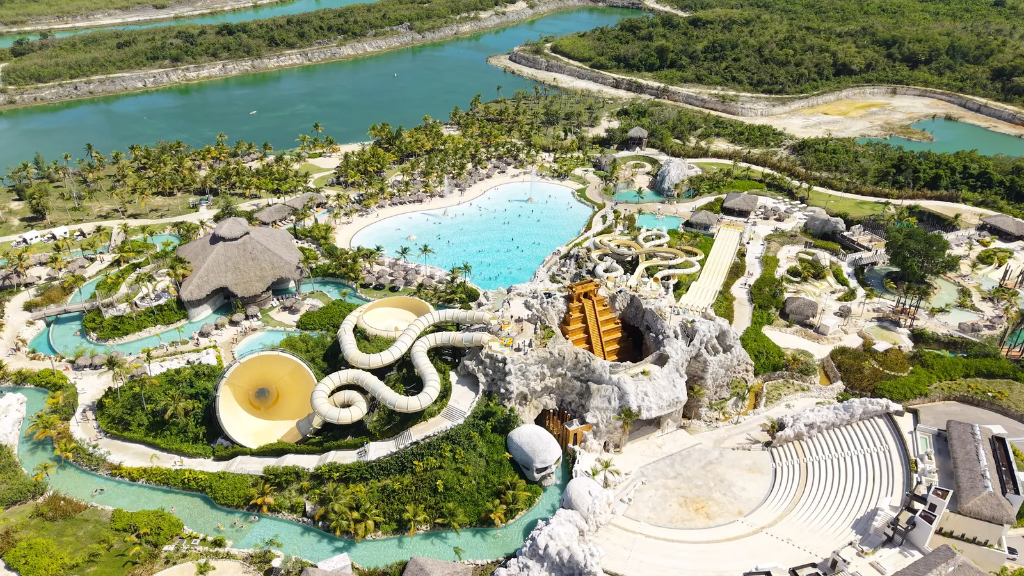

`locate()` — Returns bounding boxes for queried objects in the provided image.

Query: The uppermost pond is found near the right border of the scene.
[856,120,1024,169]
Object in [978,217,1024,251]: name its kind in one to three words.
building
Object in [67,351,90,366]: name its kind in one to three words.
umbrella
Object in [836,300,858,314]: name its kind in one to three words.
umbrella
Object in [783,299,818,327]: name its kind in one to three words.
shed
